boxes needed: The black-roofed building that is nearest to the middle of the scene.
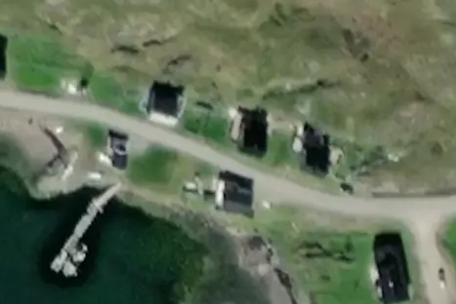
[237,127,267,157]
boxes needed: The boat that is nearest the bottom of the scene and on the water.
[64,262,78,278]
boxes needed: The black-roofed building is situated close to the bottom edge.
[374,240,409,304]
